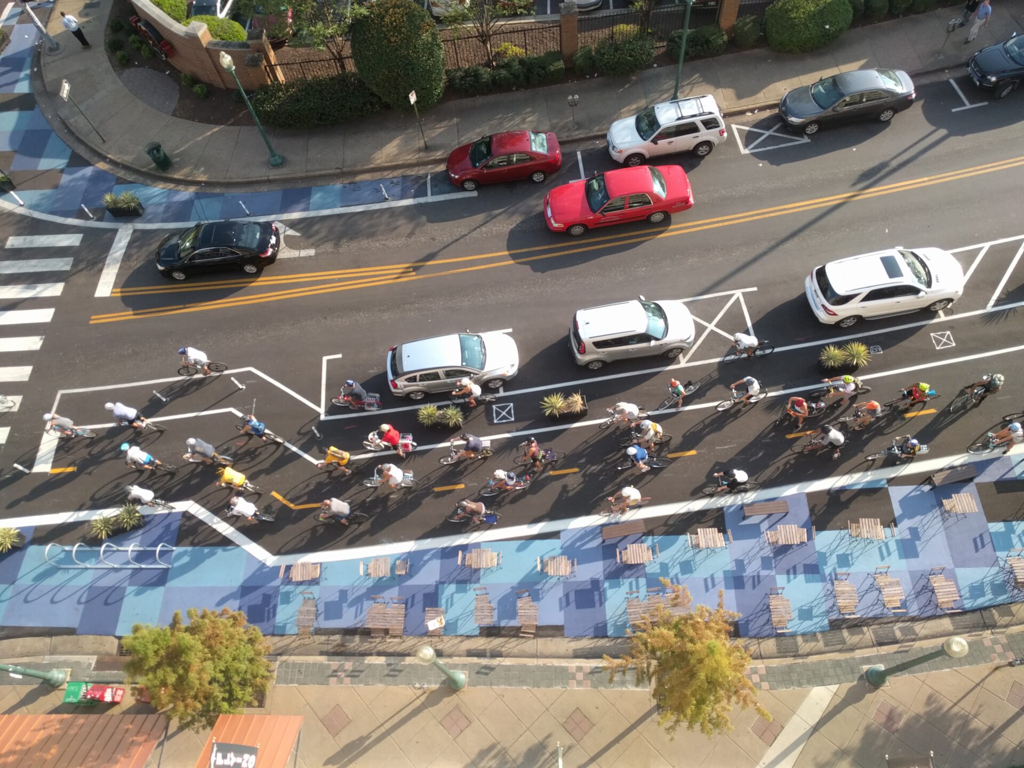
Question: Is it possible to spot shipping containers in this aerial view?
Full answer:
No, I can't see a single shipping container in this photo.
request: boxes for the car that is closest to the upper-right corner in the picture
[966,33,1024,99]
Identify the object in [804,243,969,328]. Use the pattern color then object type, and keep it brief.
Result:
white car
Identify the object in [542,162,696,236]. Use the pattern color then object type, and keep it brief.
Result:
red car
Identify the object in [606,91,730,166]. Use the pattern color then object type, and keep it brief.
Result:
white car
